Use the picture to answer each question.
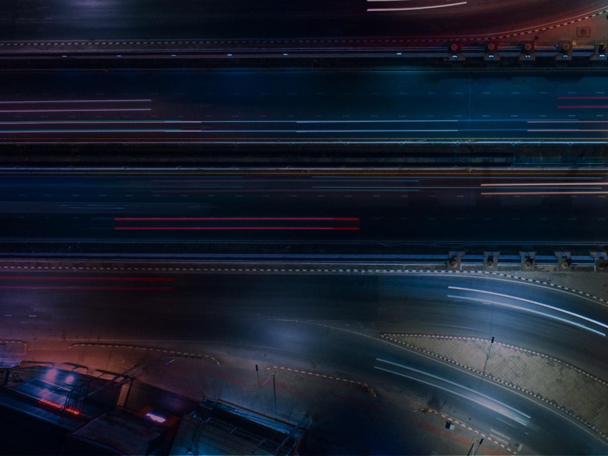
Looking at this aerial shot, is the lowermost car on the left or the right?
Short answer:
right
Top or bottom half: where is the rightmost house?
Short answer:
bottom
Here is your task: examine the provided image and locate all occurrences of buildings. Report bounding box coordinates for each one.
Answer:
[0,366,129,456]
[174,392,309,456]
